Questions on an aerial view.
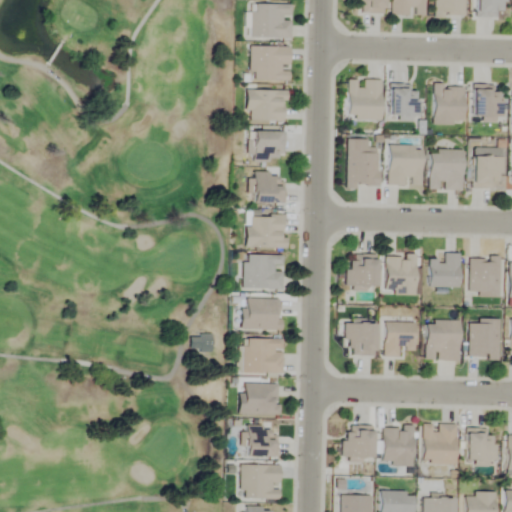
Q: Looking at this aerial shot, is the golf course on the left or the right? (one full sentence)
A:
The golf course appears in the left half of the scene.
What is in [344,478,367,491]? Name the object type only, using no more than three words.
swimming pool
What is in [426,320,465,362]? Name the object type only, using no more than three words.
house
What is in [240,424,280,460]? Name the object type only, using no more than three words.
house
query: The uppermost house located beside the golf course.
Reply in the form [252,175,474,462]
[251,1,296,41]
